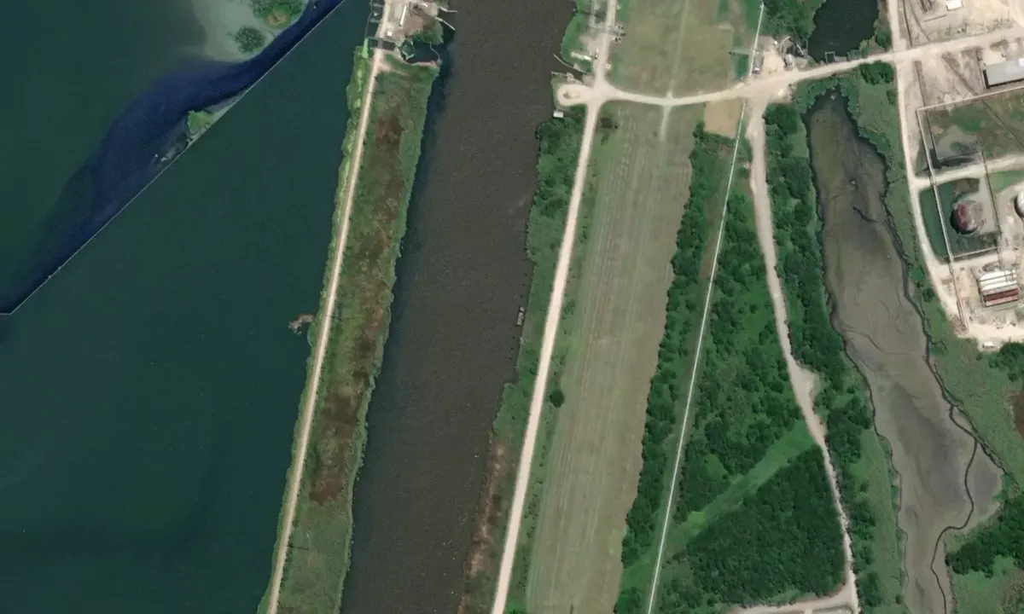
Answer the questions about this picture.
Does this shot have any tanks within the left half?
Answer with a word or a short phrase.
No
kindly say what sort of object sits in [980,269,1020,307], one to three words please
building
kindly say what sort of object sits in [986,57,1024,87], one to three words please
building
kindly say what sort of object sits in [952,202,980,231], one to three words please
storage tank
